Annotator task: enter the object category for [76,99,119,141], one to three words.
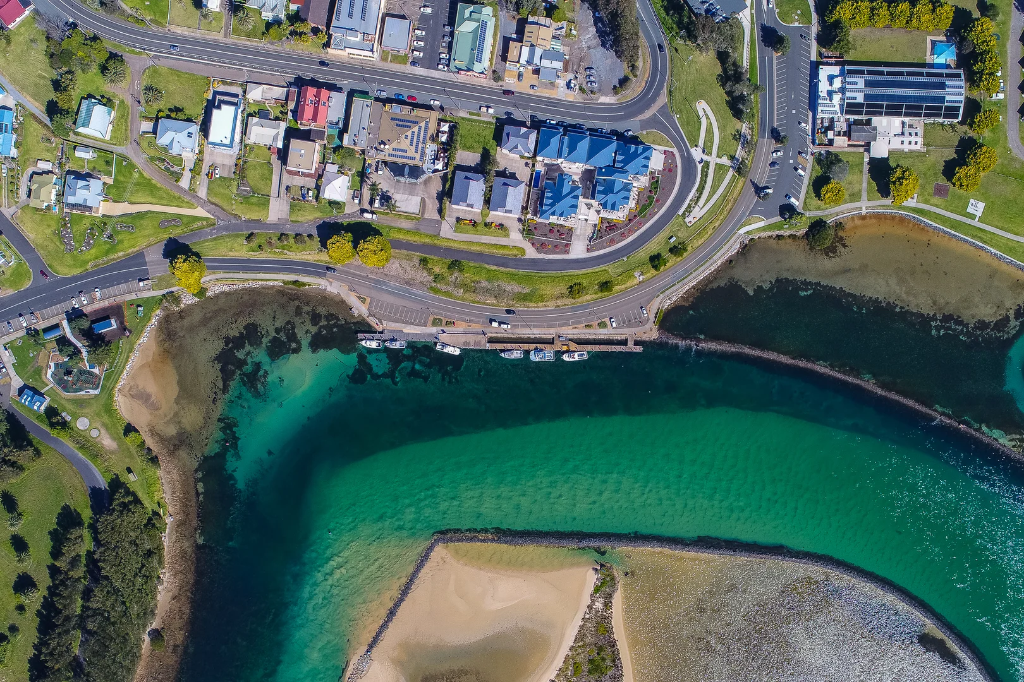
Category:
house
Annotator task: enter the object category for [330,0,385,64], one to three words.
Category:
building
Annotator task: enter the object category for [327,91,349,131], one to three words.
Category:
building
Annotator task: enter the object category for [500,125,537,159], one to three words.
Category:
house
